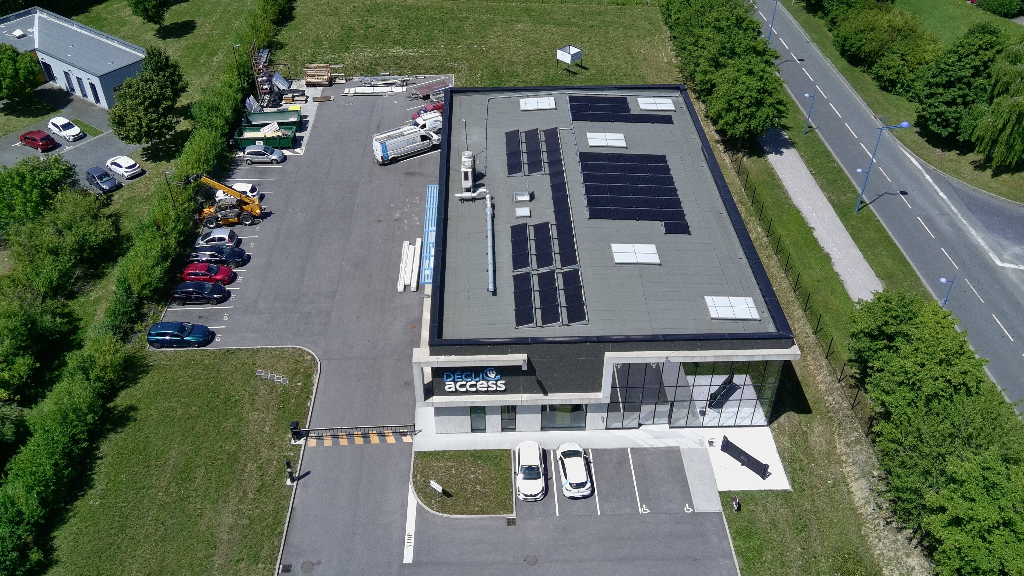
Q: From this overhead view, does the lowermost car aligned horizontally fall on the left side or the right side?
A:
left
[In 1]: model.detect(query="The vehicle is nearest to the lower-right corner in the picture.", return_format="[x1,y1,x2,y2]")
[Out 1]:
[557,443,592,499]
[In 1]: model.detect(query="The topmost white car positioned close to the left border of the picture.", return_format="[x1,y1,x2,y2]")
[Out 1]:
[48,114,85,139]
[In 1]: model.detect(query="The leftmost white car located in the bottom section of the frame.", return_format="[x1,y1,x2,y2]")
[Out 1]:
[514,441,547,501]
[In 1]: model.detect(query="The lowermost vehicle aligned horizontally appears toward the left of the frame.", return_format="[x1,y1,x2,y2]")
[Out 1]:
[149,319,214,348]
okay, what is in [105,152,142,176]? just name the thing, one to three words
car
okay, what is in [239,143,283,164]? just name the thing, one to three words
car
